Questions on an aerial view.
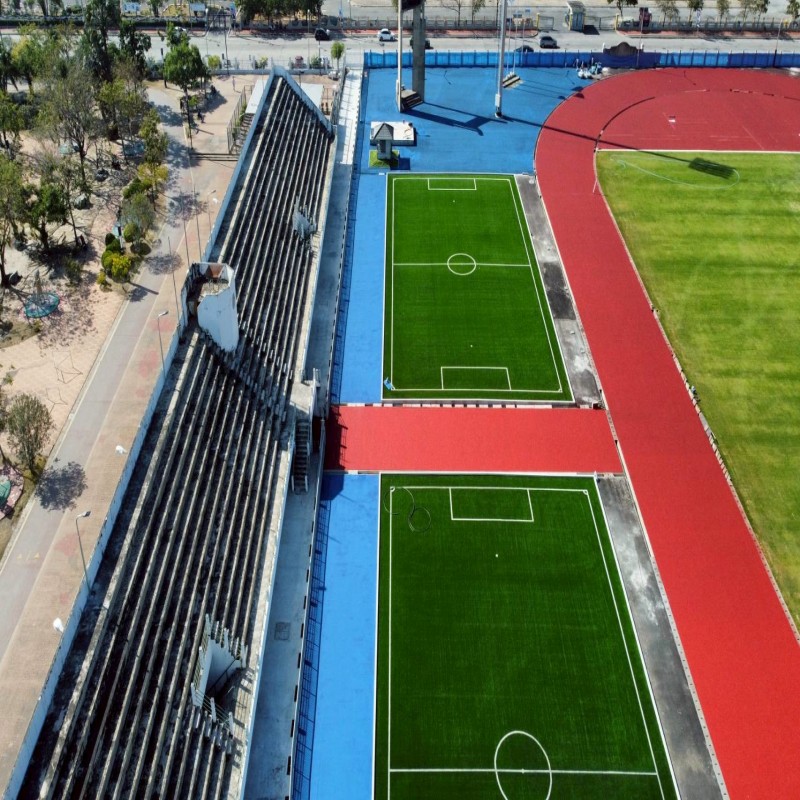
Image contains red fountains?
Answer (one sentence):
No, the scene contains no red fountain.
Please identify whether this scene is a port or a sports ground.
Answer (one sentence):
It's a sports ground.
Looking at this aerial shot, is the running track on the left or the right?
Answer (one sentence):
It is on the right.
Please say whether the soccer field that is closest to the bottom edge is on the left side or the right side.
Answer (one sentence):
It is on the right.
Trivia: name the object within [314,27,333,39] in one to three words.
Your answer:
vehicle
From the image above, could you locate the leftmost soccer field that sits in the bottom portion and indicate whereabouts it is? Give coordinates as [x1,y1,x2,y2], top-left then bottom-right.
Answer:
[372,473,680,800]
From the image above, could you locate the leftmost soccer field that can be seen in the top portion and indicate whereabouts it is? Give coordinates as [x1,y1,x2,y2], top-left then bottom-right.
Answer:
[380,173,576,400]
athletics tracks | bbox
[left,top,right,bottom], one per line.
[535,66,800,800]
